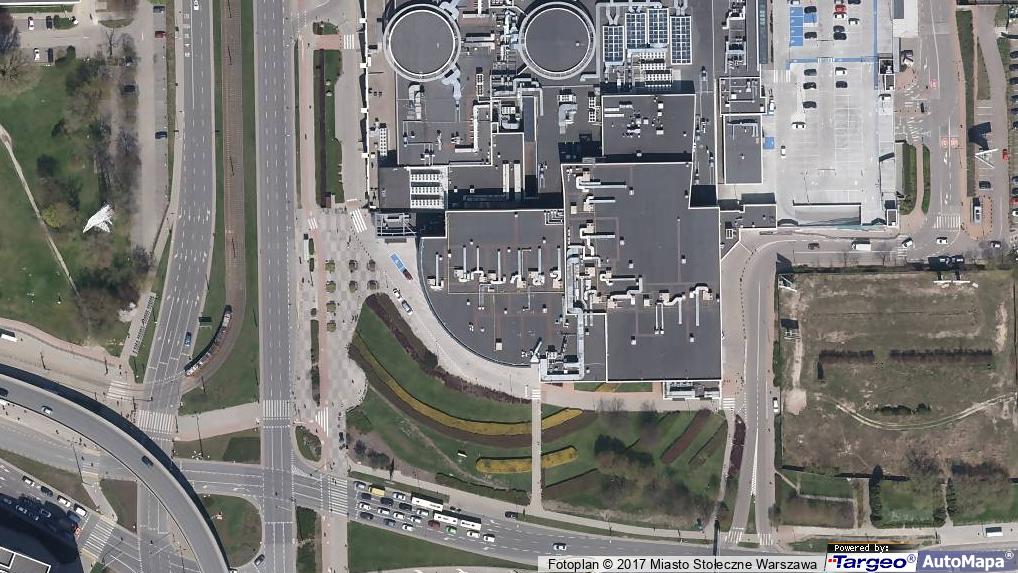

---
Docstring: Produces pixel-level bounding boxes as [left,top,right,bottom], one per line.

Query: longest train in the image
[188,309,234,373]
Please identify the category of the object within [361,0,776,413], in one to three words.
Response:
building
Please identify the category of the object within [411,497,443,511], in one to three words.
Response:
vehicle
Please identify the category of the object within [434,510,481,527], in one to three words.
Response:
vehicle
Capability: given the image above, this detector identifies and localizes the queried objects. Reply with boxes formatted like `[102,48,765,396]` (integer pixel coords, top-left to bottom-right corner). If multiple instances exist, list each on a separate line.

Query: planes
[86,204,114,232]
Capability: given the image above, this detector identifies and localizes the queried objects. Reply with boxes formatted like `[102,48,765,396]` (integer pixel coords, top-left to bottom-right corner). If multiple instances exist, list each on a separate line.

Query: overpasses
[0,374,228,573]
